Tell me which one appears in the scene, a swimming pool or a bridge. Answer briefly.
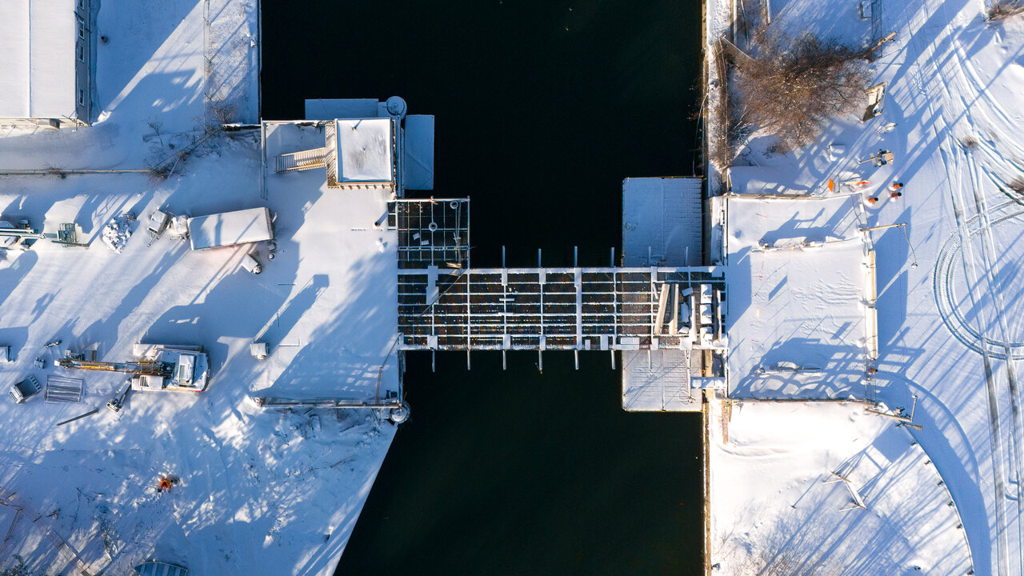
bridge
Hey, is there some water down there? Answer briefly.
Yes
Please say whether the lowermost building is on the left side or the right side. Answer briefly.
left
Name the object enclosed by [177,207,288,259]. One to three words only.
truck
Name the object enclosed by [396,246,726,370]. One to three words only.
bridge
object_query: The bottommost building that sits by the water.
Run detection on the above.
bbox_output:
[271,118,396,189]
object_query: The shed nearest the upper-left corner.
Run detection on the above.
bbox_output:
[0,0,92,149]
